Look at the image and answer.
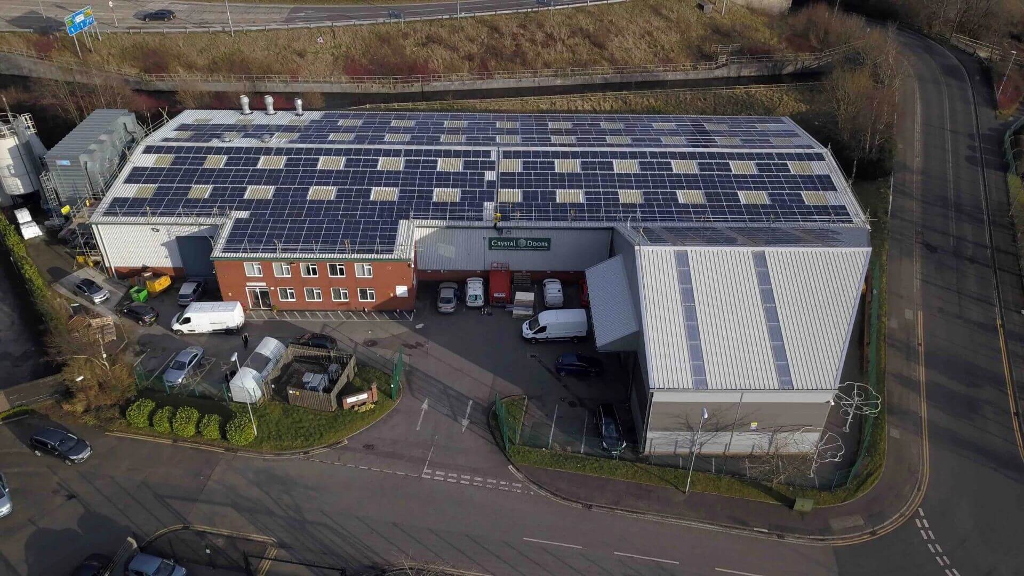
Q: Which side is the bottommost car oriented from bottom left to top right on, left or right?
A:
left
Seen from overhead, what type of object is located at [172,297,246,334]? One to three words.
van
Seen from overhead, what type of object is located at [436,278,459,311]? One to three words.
car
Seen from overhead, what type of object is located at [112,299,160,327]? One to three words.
car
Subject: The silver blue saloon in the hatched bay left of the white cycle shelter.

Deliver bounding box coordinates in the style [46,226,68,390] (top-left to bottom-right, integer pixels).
[160,342,207,384]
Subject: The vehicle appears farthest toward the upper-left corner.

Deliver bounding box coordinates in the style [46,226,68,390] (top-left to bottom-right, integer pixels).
[143,7,176,22]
